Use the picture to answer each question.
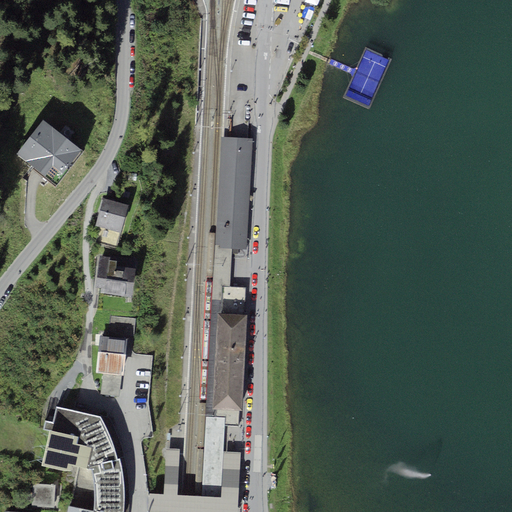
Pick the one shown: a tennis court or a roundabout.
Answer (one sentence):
The image shows a tennis court.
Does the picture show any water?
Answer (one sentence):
Yes, some water is visible.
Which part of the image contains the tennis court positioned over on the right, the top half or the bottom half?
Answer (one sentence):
The top half of the photo is where the tennis court positioned over on the right is.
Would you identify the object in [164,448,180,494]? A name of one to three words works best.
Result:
building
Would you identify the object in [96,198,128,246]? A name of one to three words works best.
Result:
house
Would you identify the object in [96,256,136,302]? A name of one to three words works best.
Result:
house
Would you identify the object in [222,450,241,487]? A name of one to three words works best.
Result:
building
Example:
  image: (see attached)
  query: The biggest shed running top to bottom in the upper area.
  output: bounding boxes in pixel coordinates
[215,137,253,249]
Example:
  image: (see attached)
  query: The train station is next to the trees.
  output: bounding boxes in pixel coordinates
[170,0,240,462]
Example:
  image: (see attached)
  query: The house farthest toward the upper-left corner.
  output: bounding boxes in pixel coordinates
[17,120,82,184]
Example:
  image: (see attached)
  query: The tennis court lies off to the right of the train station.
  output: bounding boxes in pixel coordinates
[343,47,392,108]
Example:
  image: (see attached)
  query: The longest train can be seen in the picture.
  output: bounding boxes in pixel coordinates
[200,279,212,401]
